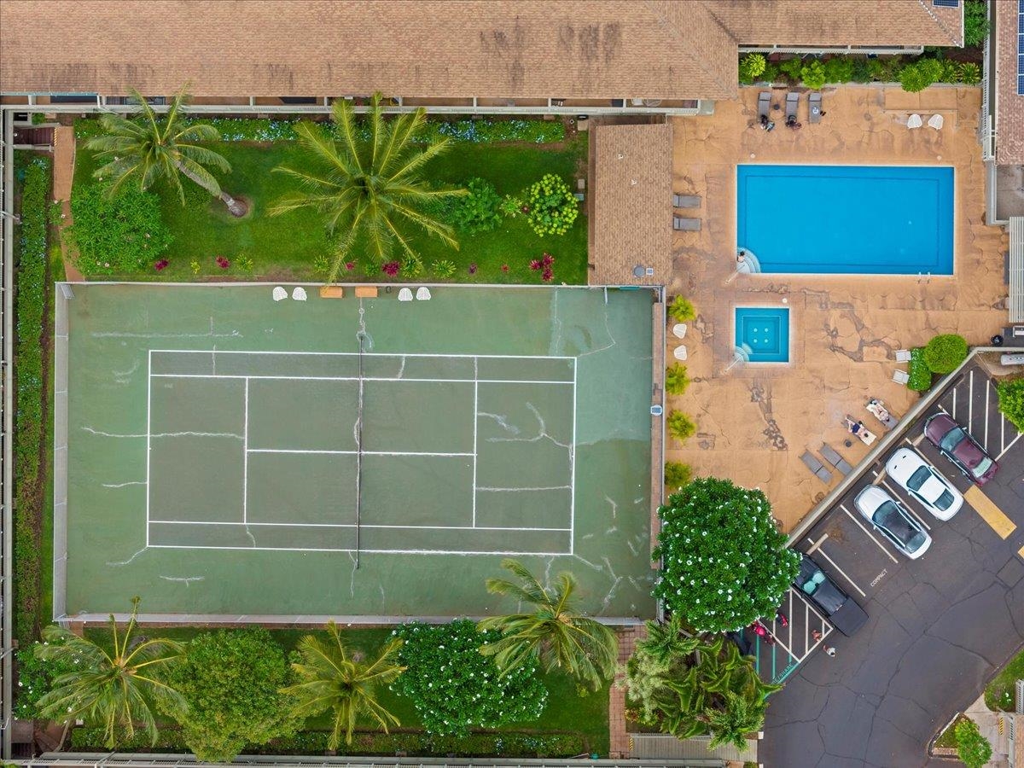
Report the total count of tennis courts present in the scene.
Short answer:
1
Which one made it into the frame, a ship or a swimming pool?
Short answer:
swimming pool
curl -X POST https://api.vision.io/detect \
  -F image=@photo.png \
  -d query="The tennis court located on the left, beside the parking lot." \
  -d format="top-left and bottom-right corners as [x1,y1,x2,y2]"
[67,286,658,619]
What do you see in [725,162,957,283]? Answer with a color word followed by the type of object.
blue swimming pool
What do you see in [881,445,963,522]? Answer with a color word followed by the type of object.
white car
